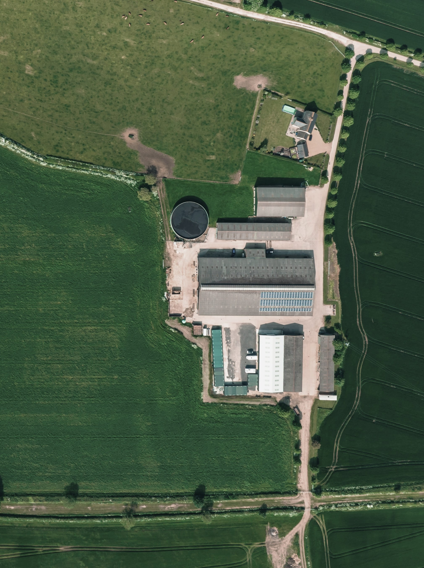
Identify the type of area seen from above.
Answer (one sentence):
This looks like farmland.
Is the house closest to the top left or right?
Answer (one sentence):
The house closest to the top is on the right side of the image.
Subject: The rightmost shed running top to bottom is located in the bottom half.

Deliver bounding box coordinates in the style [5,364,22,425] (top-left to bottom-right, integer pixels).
[317,335,335,392]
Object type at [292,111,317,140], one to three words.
house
